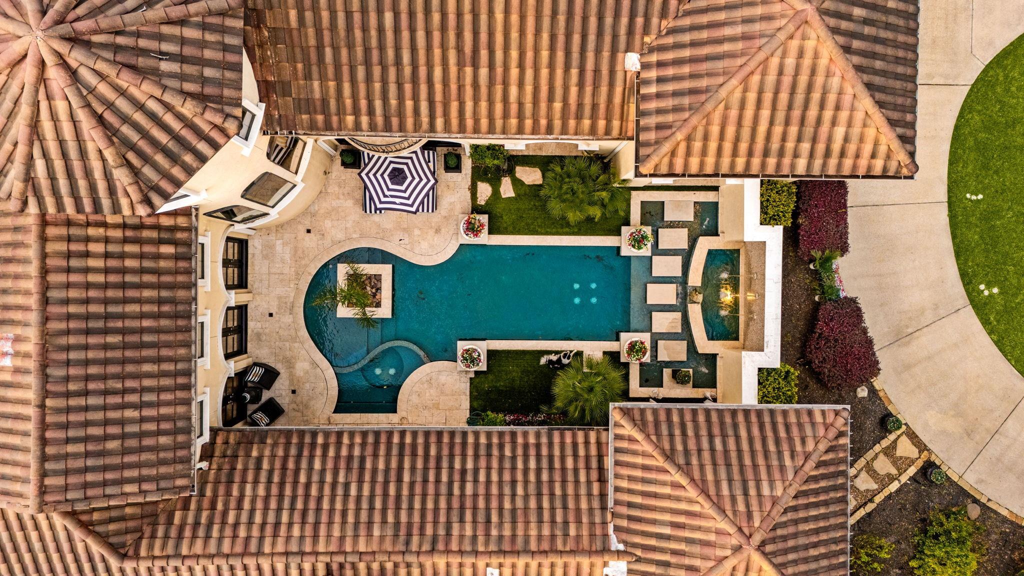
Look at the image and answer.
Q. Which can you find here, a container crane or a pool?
pool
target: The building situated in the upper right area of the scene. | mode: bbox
[615,0,924,189]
